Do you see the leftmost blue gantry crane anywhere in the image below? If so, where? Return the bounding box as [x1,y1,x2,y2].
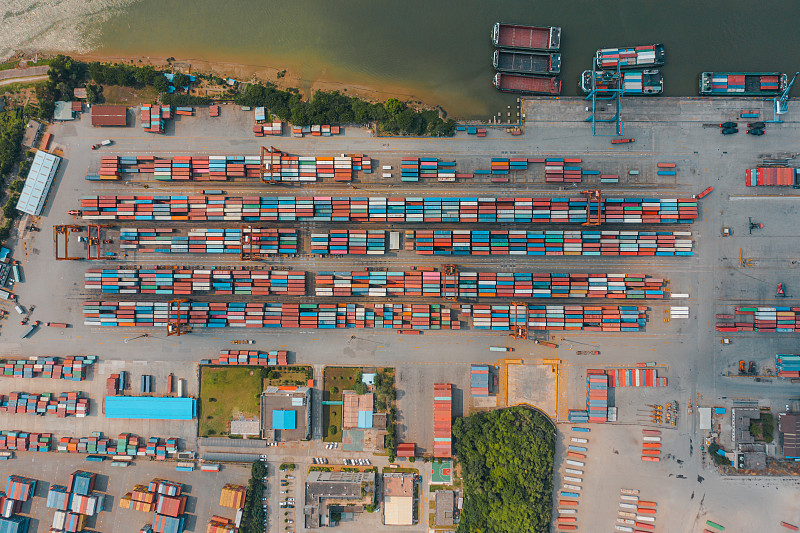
[580,58,625,135]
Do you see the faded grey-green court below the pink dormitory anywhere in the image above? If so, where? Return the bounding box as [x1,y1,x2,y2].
[344,430,363,451]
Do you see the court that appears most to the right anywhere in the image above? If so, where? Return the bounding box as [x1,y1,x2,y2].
[432,462,451,485]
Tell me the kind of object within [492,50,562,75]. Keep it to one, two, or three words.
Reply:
ship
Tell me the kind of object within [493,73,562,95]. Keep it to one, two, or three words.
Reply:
ship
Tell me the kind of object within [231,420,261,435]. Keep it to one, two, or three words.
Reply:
building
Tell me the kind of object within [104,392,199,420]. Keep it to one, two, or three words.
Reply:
shed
